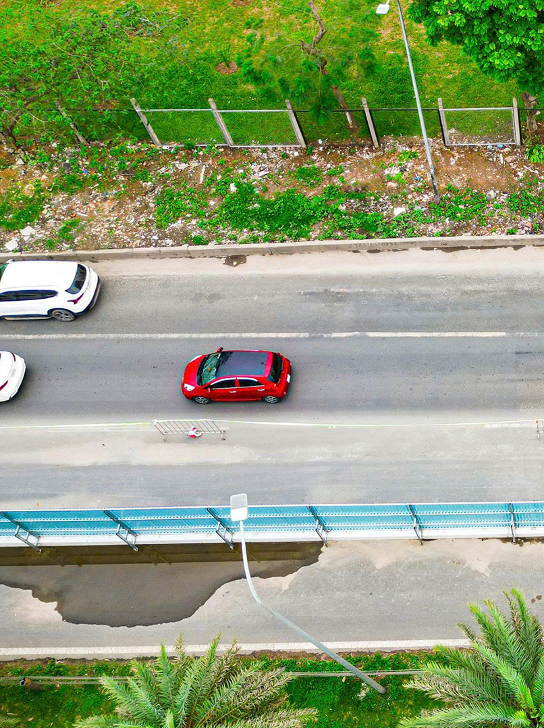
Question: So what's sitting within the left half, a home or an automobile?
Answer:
automobile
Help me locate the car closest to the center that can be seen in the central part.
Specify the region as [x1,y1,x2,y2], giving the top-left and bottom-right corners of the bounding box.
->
[179,347,292,403]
